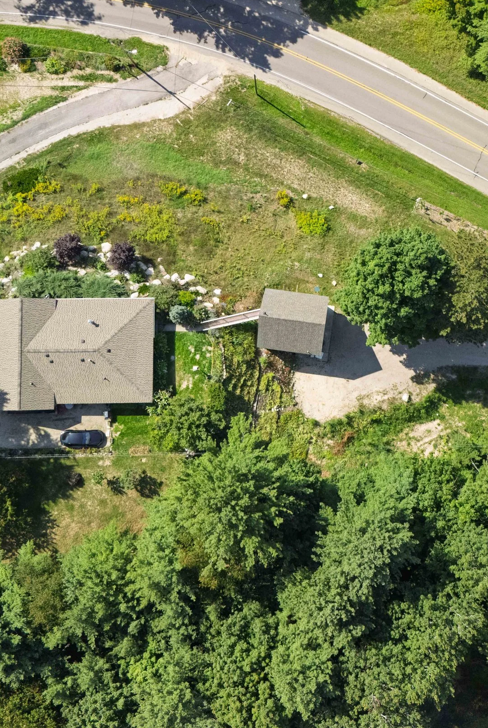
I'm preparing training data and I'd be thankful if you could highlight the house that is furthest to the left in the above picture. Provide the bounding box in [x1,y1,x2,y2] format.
[0,294,156,410]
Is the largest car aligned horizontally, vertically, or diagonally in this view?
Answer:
horizontally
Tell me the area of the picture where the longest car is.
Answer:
left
